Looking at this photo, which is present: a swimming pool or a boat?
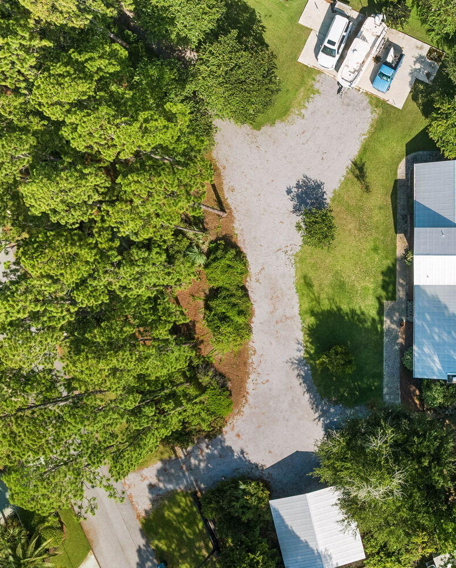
boat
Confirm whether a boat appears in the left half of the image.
No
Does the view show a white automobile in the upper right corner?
Yes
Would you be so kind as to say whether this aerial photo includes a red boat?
No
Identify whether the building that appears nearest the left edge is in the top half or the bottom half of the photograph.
bottom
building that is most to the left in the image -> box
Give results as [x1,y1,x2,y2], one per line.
[270,483,365,568]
